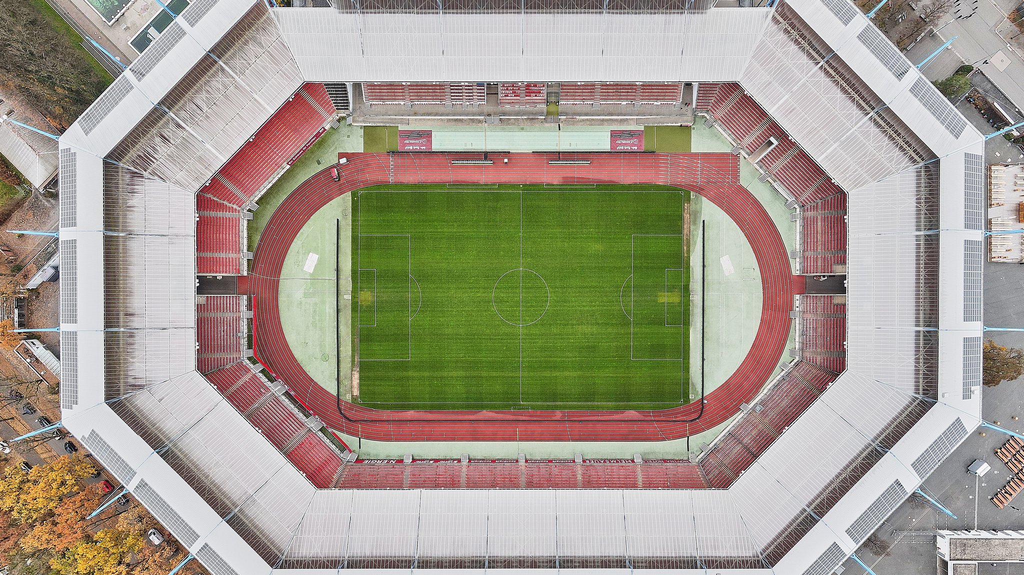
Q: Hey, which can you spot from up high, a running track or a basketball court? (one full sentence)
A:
The image shows a running track.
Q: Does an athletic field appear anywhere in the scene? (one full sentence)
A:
Yes, there's an athletic field down there.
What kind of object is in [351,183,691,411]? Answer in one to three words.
sports field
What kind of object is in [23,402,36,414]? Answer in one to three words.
vehicle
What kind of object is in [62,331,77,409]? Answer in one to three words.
solar array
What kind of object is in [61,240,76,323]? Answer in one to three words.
solar array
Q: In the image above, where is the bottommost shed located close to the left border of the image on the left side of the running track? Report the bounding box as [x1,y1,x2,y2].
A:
[13,340,60,399]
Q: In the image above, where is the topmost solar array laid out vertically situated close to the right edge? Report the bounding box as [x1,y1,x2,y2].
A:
[965,152,982,230]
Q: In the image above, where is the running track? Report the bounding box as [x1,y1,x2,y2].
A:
[248,153,794,441]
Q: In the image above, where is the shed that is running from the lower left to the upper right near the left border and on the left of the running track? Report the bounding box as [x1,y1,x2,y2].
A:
[27,256,59,289]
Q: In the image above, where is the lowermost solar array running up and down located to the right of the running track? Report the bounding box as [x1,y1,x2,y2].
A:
[963,337,980,399]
